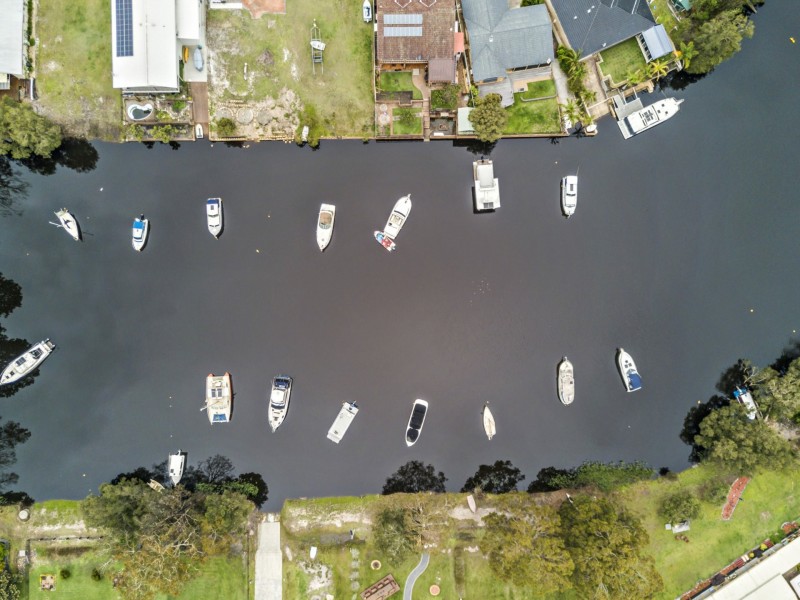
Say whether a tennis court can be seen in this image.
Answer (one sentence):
No, I can't see a single tennis court in this photo.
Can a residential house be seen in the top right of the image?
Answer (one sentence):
Yes, a residential house shows up in the top right of the image.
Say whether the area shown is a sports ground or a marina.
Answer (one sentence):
What you see here is a marina.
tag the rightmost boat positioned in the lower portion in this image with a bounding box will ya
[734,390,757,418]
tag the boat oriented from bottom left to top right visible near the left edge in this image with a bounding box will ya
[0,339,61,384]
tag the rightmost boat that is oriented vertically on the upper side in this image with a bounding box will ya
[562,168,578,217]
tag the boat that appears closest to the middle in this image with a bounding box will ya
[376,233,394,250]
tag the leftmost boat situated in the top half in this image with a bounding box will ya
[52,209,80,240]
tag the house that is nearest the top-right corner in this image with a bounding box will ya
[545,0,656,61]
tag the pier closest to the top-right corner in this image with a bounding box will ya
[613,87,647,120]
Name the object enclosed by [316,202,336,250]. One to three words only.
boat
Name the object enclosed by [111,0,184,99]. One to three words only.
house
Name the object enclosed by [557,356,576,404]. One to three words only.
boat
